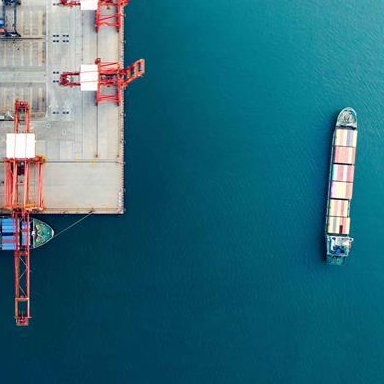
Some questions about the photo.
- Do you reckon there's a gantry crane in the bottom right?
No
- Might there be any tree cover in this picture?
No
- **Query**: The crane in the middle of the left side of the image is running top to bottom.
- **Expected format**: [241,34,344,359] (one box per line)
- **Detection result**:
[5,102,47,327]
